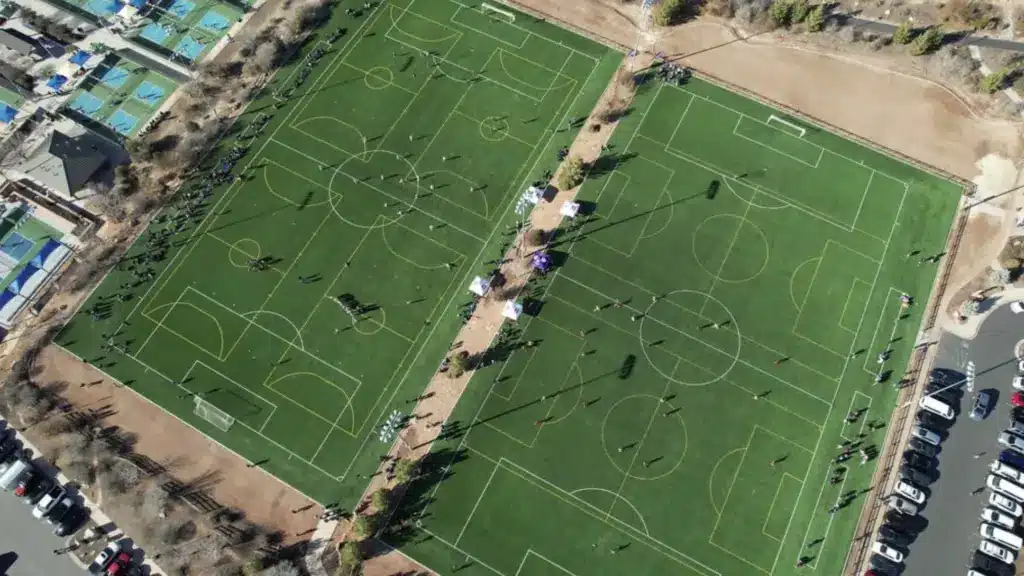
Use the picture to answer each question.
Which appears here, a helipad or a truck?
truck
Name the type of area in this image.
sports ground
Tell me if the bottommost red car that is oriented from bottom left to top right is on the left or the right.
left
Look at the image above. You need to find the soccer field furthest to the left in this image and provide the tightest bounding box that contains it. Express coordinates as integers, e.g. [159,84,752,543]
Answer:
[52,0,627,515]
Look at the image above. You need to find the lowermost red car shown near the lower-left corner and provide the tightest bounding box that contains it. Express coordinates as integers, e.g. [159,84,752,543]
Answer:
[105,551,133,576]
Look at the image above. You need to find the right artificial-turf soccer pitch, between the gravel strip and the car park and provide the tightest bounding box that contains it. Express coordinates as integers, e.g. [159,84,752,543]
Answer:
[375,57,965,576]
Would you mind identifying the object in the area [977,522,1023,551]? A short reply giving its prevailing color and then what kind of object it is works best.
white van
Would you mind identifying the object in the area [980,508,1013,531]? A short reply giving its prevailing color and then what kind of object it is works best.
white car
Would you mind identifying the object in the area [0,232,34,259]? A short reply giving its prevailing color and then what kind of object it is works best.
blue sports court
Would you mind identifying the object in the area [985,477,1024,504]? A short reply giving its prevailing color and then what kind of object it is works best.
white vehicle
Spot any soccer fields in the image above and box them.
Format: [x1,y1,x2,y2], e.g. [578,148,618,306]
[375,57,965,576]
[52,0,627,515]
